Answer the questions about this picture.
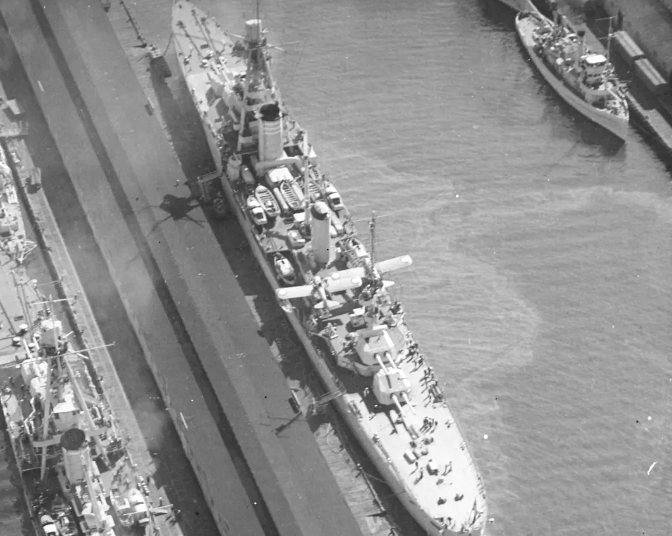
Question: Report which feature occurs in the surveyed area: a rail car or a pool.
rail car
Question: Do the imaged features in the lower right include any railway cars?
No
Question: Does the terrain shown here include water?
Yes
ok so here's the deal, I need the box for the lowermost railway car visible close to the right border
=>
[633,58,669,100]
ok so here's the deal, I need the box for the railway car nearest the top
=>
[609,32,644,71]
